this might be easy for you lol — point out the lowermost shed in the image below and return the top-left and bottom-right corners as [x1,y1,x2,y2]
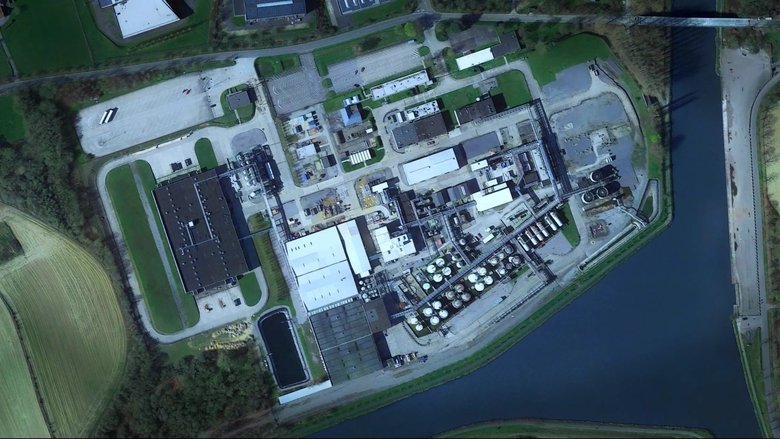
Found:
[278,381,332,405]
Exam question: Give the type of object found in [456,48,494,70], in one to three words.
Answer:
building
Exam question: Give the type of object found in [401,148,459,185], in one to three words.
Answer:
building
